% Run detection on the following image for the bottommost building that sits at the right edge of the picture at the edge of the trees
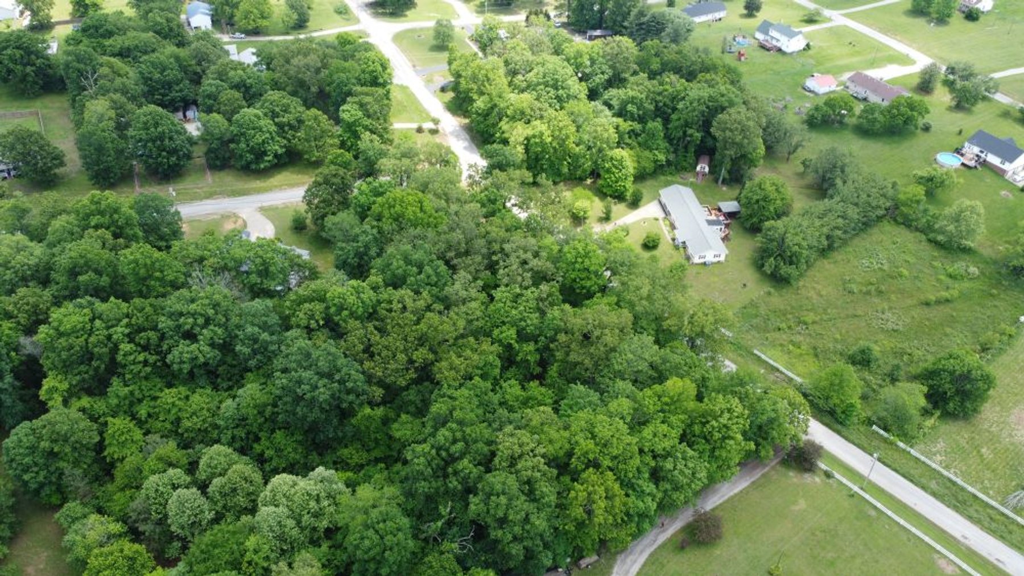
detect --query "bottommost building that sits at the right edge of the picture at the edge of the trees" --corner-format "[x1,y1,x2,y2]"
[957,132,1024,181]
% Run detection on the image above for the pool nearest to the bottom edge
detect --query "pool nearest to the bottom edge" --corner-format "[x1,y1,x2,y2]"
[931,153,967,170]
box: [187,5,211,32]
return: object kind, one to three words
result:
house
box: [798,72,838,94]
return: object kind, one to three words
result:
shed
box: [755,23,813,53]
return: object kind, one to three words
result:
house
